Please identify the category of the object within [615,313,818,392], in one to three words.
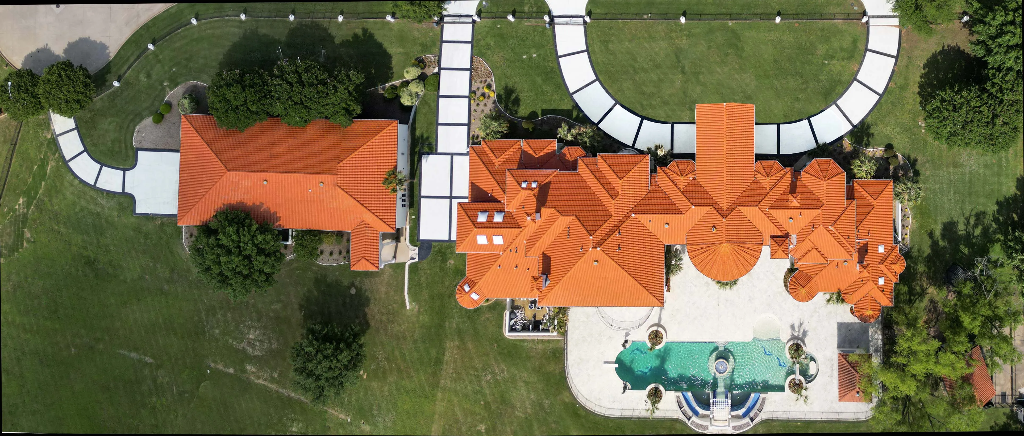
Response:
swimming pool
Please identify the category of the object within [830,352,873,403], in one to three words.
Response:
building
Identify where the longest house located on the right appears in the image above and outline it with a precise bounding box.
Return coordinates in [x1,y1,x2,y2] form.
[455,103,906,324]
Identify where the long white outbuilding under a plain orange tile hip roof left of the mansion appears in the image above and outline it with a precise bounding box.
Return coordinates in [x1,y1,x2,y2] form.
[176,114,404,271]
